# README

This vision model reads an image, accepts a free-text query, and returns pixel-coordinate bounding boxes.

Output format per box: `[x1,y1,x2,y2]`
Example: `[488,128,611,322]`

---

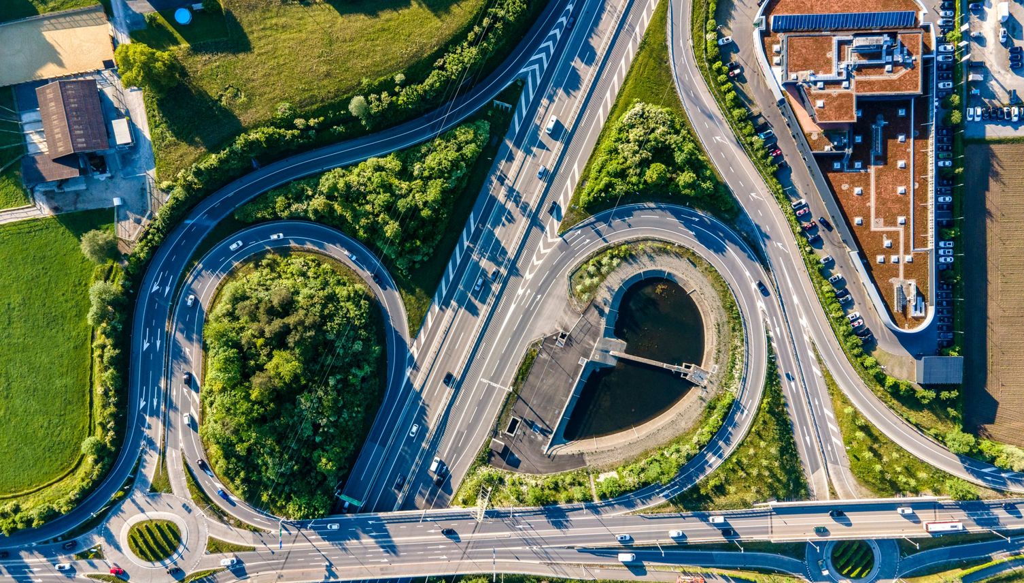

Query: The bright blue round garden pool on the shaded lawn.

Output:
[174,8,191,25]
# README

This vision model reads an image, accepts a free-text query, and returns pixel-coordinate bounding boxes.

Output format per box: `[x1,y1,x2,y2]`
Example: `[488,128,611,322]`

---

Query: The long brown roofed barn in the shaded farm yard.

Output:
[36,80,113,161]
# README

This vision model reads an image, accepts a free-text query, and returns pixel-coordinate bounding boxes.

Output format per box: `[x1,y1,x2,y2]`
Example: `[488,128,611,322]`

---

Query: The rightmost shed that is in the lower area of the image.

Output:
[912,356,963,383]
